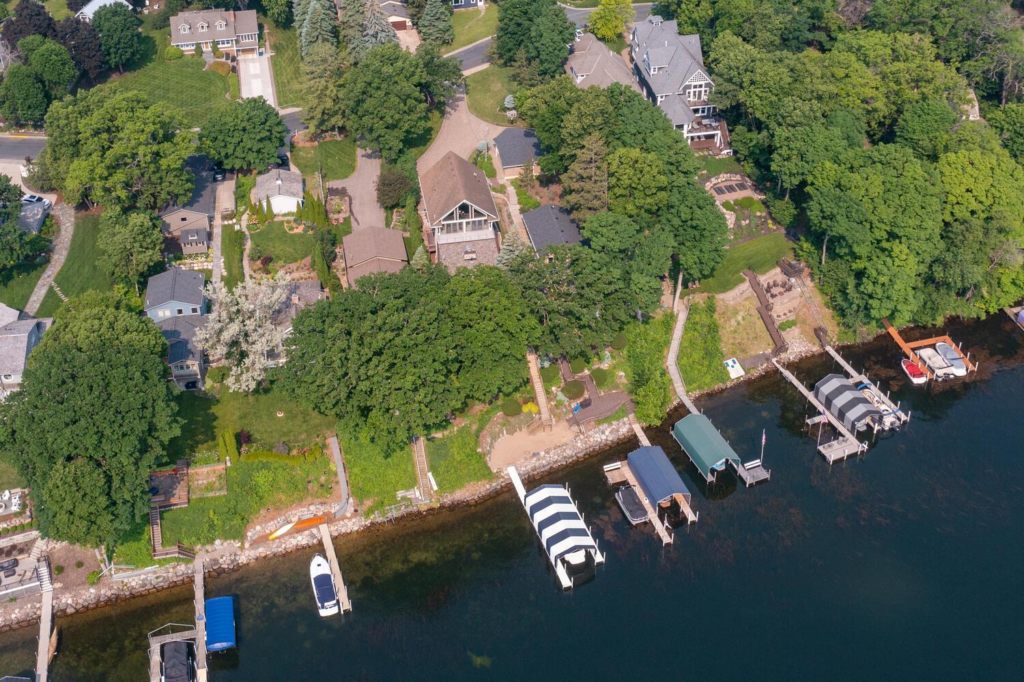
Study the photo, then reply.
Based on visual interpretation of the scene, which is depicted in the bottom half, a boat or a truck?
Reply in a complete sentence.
It is a boat that can be seen in the bottom half.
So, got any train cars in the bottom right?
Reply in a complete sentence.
No, I see no train car in the bottom right.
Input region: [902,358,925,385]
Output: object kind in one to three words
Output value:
boat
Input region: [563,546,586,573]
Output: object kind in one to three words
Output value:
boat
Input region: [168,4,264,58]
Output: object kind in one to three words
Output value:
house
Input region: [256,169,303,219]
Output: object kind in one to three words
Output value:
building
